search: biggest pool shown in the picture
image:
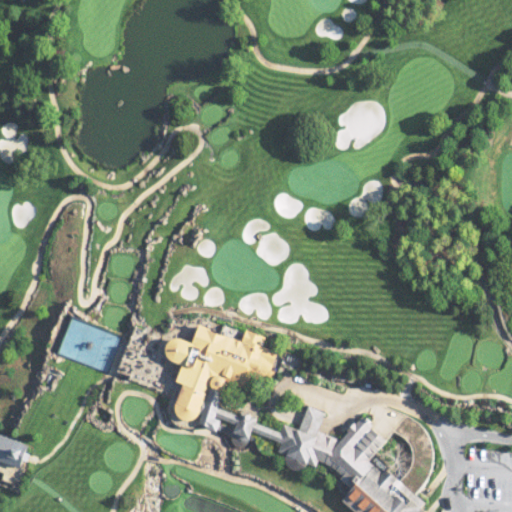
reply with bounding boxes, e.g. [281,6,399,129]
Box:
[59,318,121,374]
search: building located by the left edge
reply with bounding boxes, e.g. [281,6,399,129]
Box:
[0,432,30,470]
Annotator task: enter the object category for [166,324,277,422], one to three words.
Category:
building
